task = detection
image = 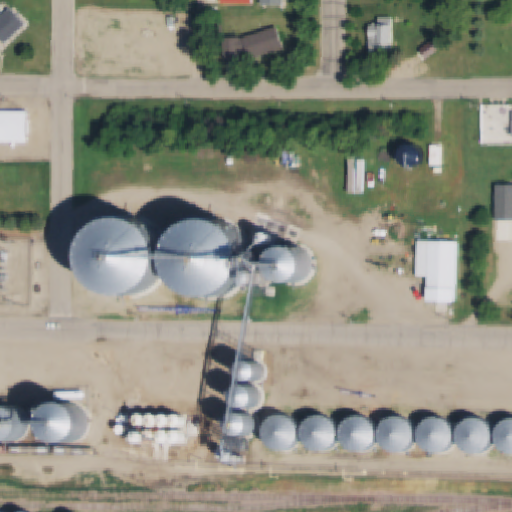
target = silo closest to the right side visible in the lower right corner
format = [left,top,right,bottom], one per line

[492,414,512,454]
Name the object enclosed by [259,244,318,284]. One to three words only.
silo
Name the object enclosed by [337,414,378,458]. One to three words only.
silo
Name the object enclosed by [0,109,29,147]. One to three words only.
building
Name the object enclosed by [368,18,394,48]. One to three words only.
house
